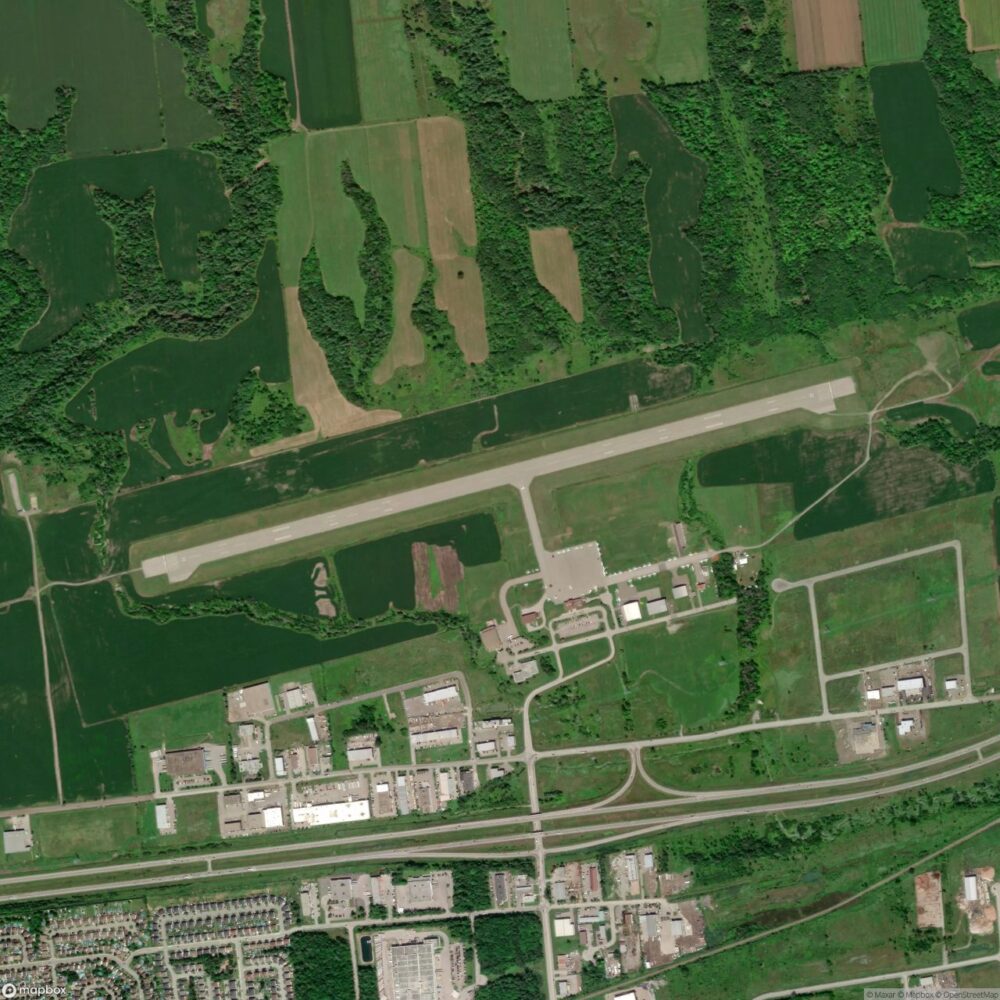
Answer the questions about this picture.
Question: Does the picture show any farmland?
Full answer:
Yes, the picture does contain farmland.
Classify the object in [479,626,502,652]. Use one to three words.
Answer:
hangar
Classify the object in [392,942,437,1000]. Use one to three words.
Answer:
building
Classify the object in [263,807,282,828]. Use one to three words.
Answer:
building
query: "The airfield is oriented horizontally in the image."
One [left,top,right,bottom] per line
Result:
[142,376,856,633]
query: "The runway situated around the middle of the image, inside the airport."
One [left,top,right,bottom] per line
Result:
[142,376,856,582]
